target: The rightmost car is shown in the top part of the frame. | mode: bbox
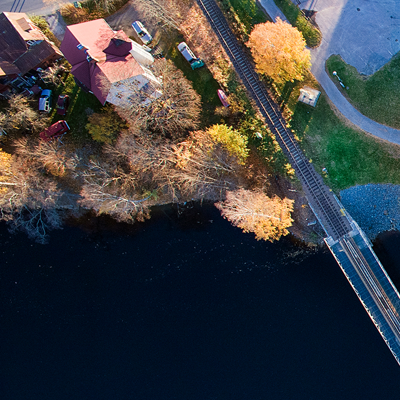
[181,42,207,73]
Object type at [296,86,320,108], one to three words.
shed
